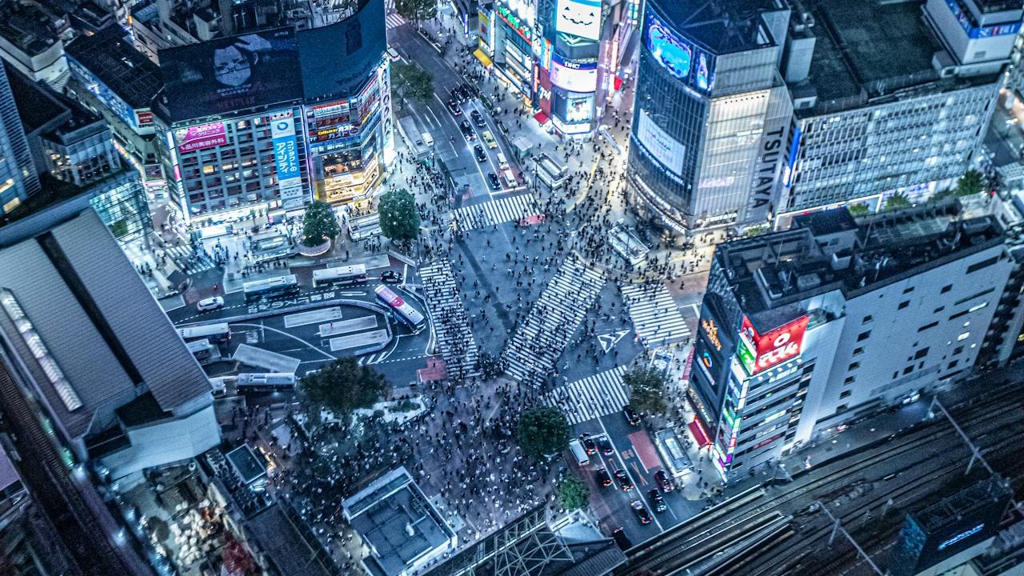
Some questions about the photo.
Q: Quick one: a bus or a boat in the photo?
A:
bus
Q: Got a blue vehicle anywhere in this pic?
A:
Yes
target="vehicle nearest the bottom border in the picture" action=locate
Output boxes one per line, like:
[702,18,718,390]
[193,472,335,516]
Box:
[611,524,633,548]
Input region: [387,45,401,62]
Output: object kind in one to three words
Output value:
vehicle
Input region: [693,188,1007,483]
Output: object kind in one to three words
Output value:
building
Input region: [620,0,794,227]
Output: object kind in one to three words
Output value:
building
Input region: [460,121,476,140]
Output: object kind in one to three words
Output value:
car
